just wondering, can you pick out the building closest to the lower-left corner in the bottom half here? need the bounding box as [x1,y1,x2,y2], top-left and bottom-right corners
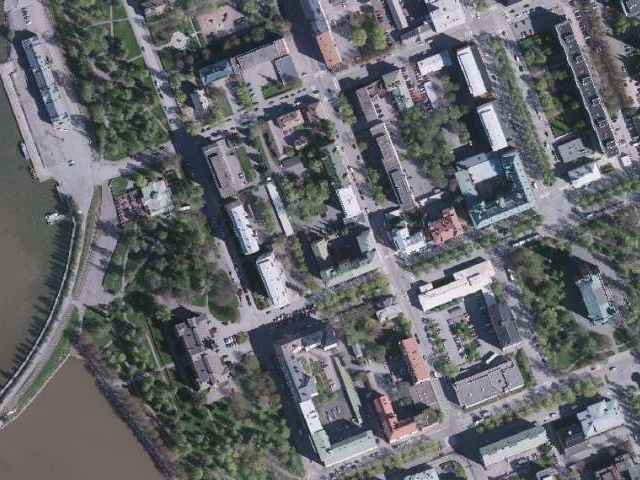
[176,315,225,392]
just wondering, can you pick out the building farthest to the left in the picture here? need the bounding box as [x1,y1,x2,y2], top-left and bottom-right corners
[23,37,70,129]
